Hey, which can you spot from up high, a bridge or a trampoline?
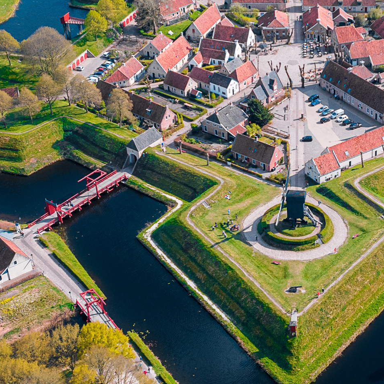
bridge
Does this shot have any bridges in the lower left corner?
Yes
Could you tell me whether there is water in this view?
Yes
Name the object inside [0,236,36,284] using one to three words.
house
